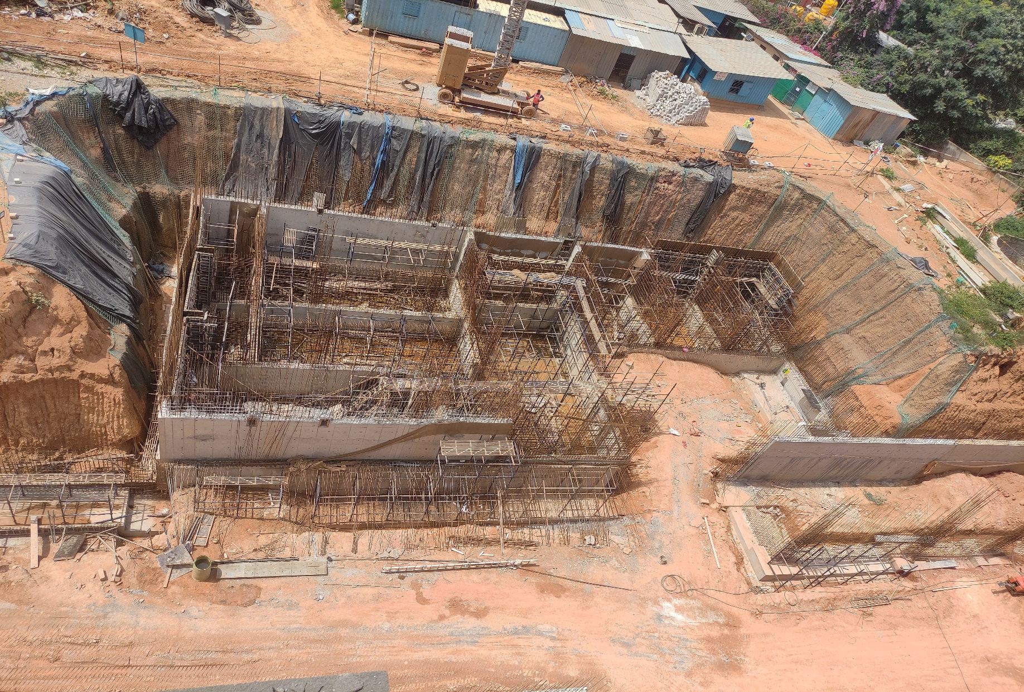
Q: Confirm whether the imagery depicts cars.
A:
No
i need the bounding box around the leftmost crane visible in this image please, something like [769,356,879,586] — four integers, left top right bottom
[439,0,538,122]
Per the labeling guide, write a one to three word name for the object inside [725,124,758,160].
building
